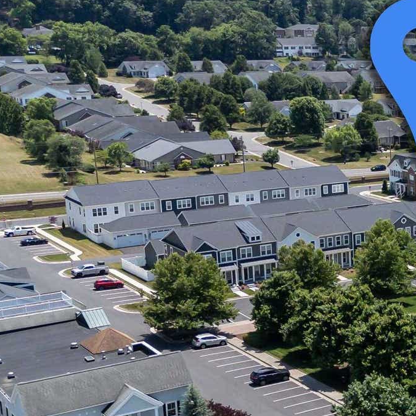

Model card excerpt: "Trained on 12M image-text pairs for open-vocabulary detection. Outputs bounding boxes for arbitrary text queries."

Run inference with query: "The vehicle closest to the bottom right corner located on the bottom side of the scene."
[248,365,291,386]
